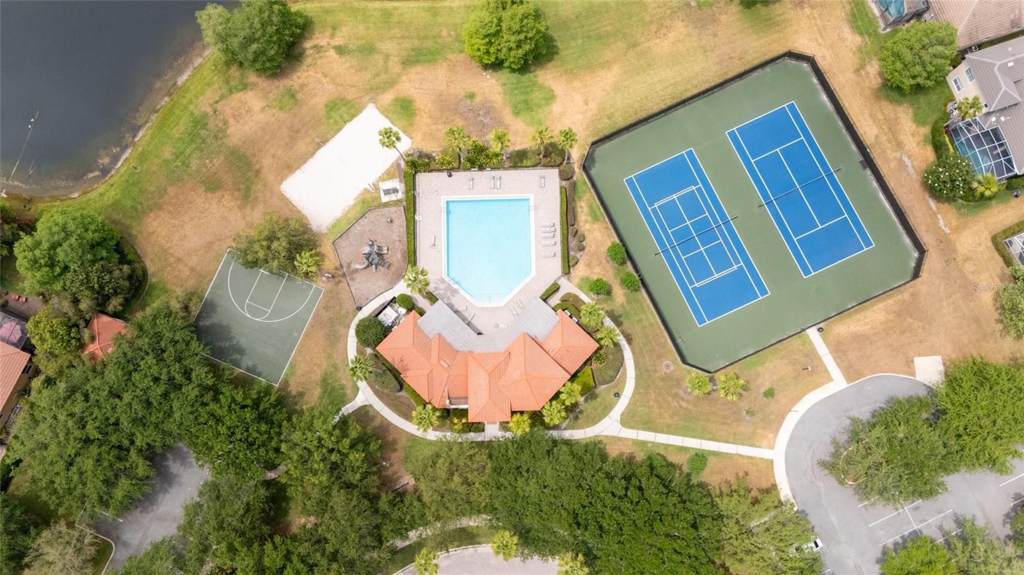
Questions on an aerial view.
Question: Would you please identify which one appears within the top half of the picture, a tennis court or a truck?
tennis court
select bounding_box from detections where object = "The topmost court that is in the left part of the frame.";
[281,104,411,231]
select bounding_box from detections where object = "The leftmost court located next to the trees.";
[190,250,324,387]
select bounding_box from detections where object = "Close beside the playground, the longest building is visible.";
[376,310,598,424]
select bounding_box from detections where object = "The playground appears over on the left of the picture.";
[331,205,408,307]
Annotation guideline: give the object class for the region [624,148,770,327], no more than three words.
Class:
tennis court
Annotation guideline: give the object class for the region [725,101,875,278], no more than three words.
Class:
tennis court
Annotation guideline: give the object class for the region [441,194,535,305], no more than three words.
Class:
swimming pool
